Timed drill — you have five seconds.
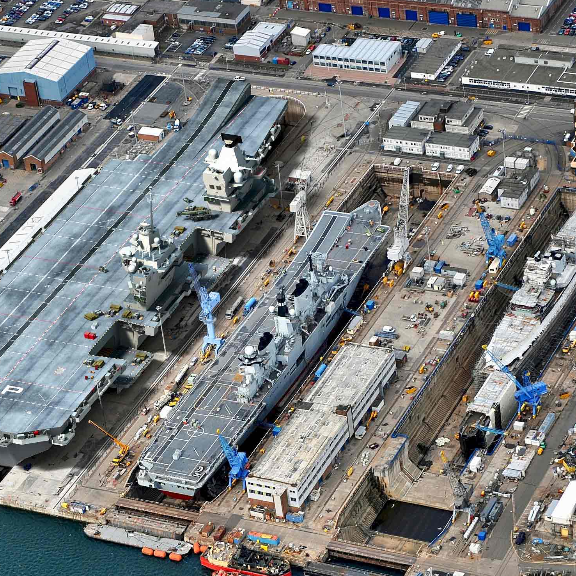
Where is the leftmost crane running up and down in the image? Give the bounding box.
[187,261,226,358]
